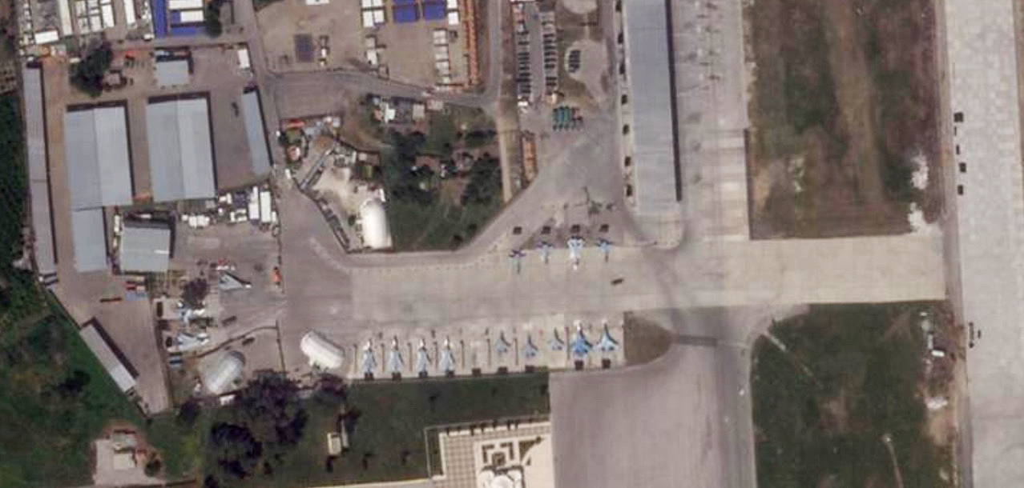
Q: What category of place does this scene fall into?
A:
airport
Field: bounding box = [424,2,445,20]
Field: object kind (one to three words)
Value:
shed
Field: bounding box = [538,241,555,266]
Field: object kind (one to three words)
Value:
airplane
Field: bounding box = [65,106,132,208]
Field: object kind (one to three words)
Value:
building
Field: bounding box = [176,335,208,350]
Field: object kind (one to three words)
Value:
airplane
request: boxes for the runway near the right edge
[947,0,1024,488]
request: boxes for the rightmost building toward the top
[623,0,678,214]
